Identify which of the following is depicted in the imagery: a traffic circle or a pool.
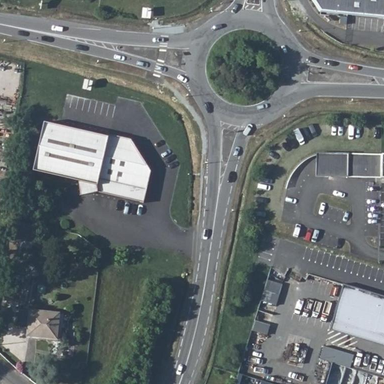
traffic circle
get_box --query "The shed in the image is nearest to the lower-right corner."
[319,346,354,368]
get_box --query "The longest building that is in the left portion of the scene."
[33,121,152,203]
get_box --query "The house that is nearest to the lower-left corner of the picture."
[26,310,62,340]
